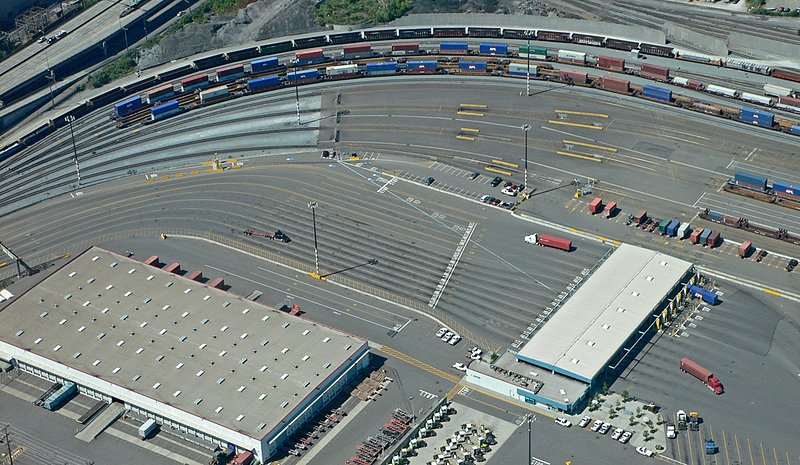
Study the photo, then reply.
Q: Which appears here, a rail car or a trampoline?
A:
rail car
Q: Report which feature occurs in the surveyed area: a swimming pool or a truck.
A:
truck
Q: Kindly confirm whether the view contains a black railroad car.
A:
Yes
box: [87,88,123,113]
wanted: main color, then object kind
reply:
black rail car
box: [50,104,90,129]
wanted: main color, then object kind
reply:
black rail car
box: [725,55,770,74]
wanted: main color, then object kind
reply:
white rail car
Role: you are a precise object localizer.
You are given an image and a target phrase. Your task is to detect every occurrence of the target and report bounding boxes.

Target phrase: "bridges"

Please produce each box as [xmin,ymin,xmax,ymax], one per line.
[0,0,173,98]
